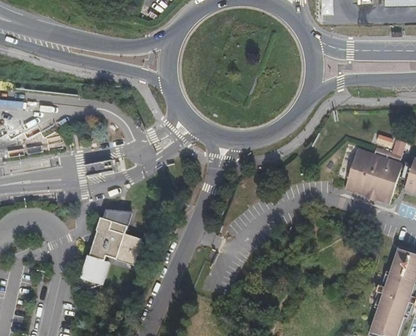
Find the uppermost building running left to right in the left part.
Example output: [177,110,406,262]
[86,158,114,176]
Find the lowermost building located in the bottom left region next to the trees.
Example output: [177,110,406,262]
[82,256,110,286]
